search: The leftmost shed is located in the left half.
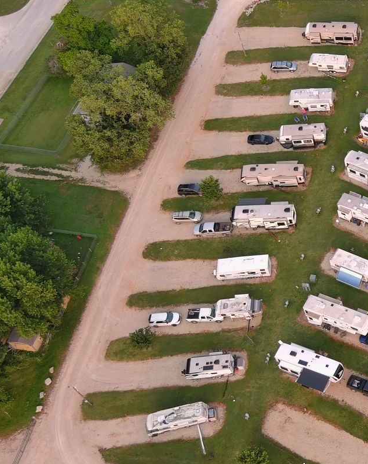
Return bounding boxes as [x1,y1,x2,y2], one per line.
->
[7,321,46,352]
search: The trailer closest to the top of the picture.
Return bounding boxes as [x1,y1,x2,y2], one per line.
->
[303,23,359,46]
